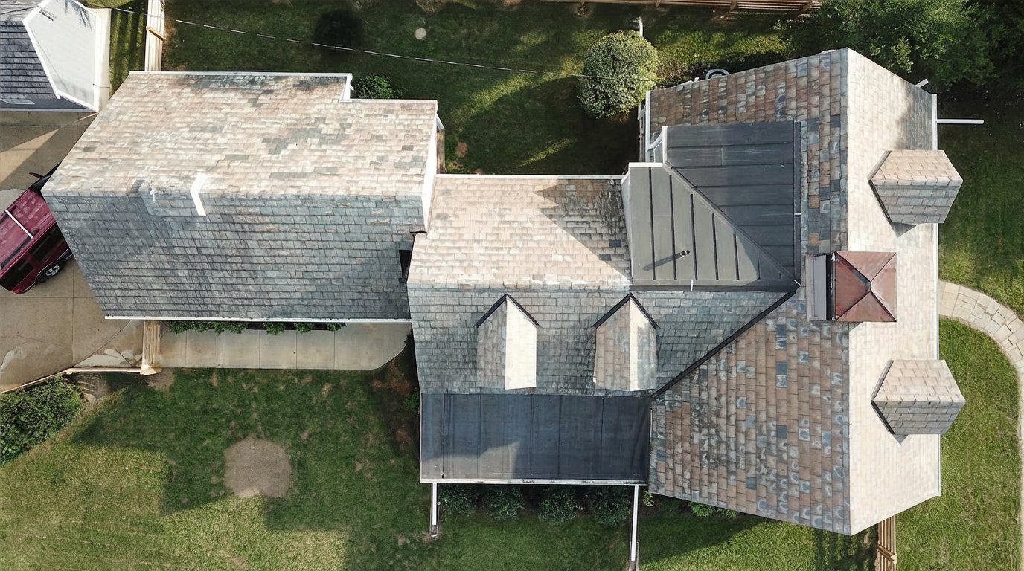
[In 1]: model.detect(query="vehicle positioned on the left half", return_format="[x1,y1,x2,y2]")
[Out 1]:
[0,177,70,291]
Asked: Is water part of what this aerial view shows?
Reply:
No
